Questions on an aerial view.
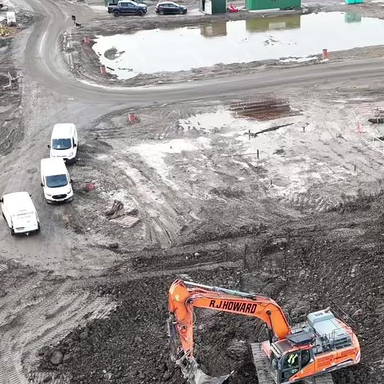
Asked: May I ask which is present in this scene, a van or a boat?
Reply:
van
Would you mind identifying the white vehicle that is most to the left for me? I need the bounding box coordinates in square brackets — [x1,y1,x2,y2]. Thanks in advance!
[3,195,42,237]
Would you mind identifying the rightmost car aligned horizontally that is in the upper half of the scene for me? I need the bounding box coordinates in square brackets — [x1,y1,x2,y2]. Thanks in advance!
[156,1,187,15]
